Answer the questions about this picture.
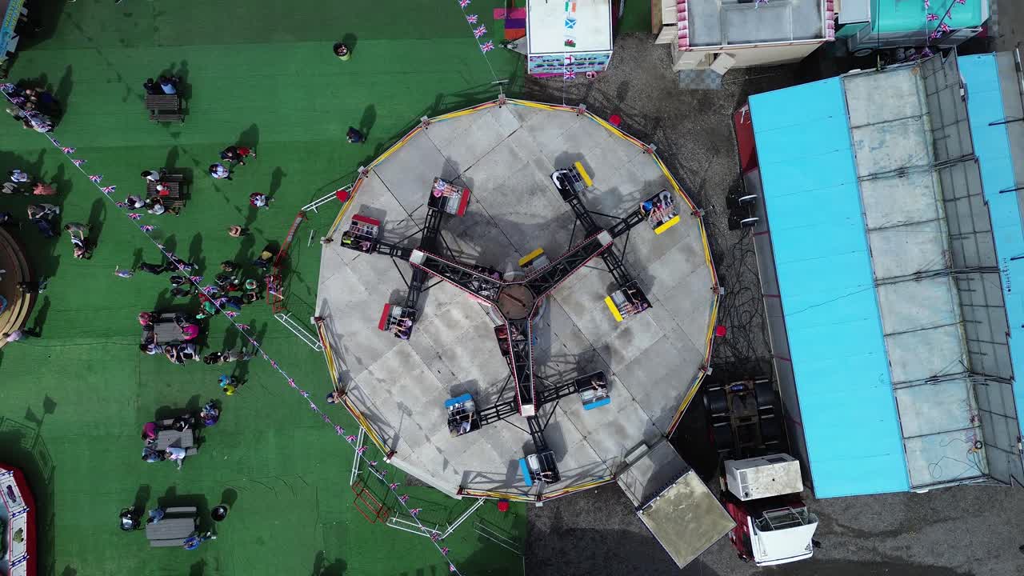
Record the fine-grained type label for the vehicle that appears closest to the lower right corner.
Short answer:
truck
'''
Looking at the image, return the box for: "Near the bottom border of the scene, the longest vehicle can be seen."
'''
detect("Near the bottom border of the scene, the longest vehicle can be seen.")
[705,370,820,567]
